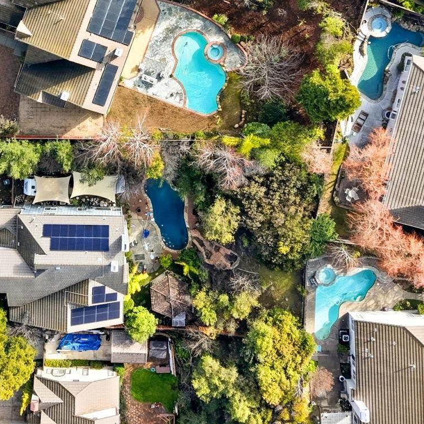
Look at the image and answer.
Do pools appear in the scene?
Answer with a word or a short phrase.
Yes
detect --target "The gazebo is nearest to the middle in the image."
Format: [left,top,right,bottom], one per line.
[153,277,191,323]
